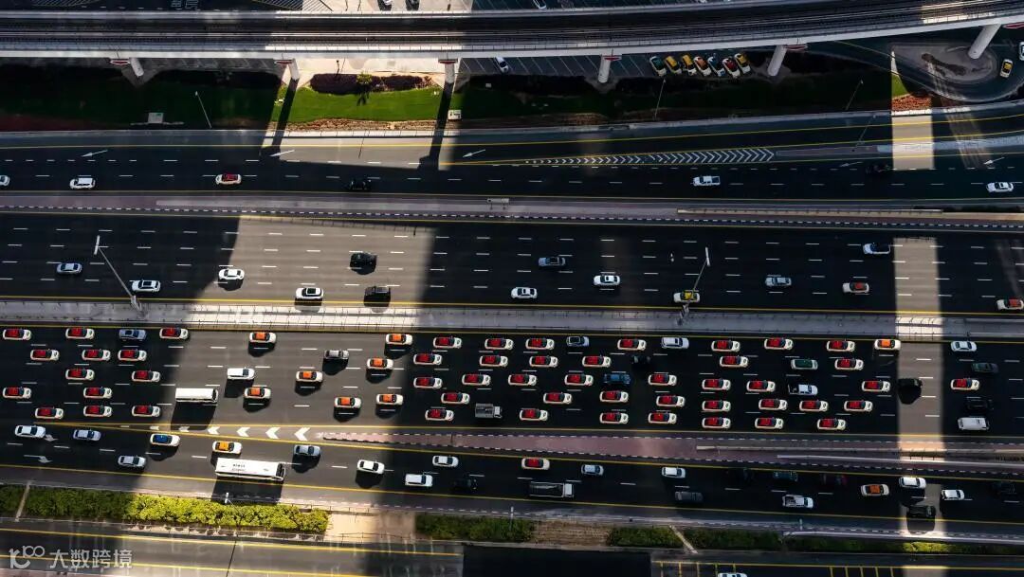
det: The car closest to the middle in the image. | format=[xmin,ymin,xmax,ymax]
[511,287,537,299]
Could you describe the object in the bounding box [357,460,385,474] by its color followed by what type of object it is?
white car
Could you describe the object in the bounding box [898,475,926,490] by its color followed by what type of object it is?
white car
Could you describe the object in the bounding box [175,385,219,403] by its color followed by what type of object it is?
white vehicle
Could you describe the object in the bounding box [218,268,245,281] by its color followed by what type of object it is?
white vehicle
